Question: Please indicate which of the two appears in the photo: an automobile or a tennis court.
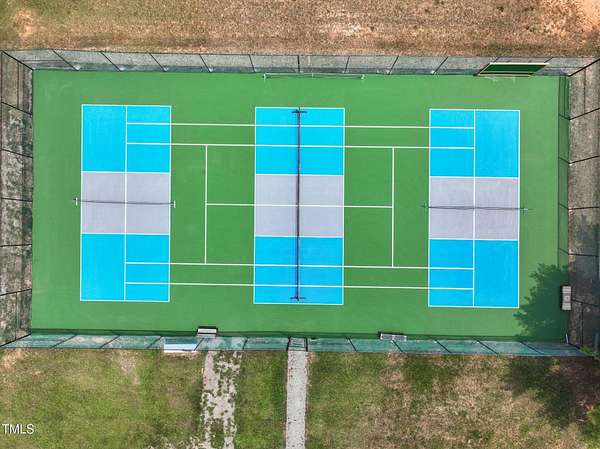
tennis court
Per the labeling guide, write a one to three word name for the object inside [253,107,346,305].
sports court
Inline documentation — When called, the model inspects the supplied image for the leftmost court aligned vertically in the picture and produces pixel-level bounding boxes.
[79,105,171,302]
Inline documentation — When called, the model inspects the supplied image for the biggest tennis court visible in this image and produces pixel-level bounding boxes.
[29,67,571,343]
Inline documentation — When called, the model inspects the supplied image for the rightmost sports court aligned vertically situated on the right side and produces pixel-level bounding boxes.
[428,108,521,307]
